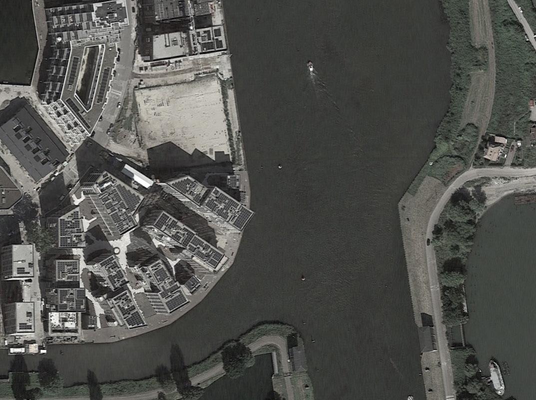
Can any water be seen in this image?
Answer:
Yes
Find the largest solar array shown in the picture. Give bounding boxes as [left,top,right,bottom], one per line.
[99,176,139,227]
